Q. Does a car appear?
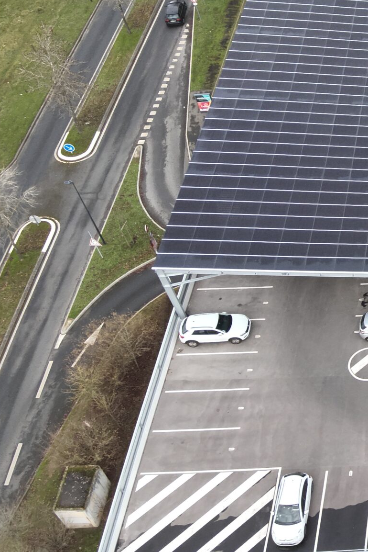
Yes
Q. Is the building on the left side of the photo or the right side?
left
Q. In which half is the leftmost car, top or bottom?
top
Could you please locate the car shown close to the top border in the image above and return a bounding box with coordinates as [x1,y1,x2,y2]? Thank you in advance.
[161,0,188,29]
